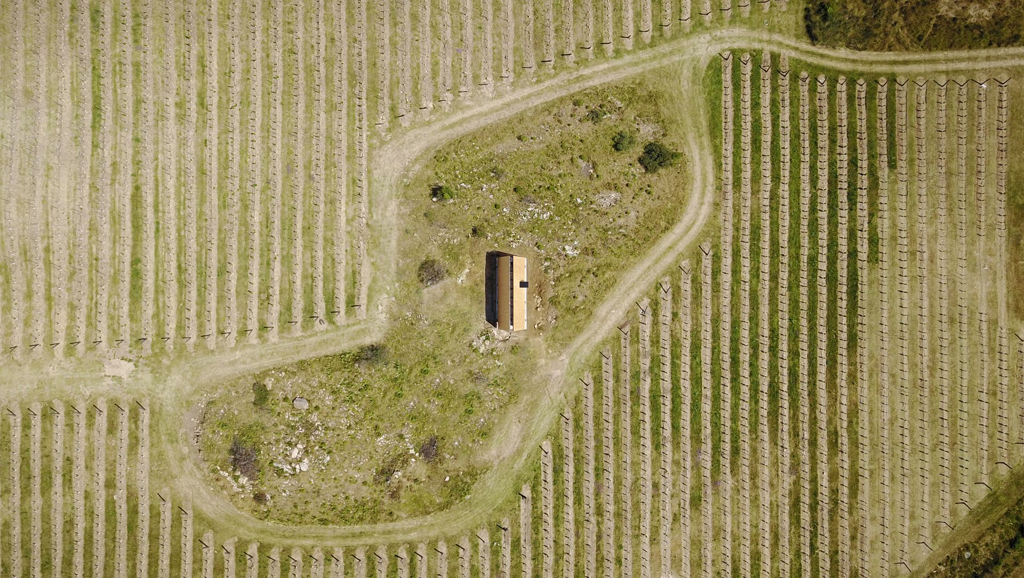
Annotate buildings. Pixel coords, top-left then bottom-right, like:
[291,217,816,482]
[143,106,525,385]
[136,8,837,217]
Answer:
[496,256,529,331]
